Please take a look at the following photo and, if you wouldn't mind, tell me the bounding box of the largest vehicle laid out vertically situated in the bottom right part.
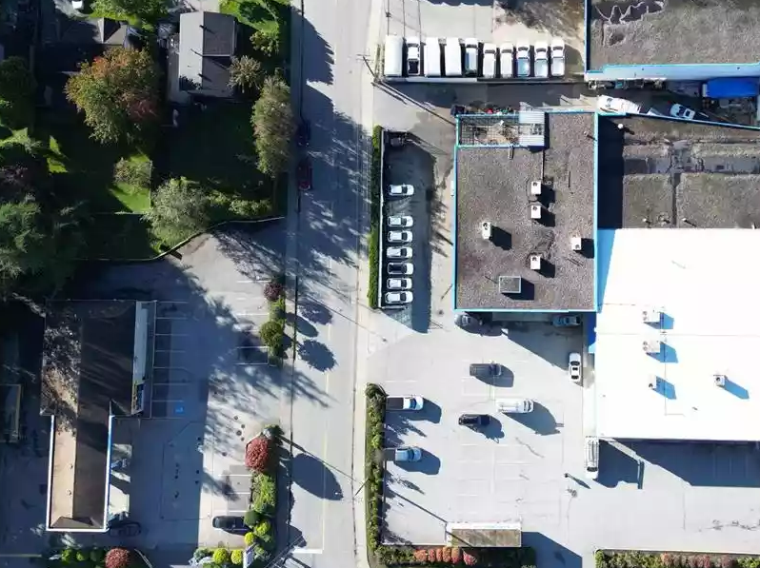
[585,435,600,476]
